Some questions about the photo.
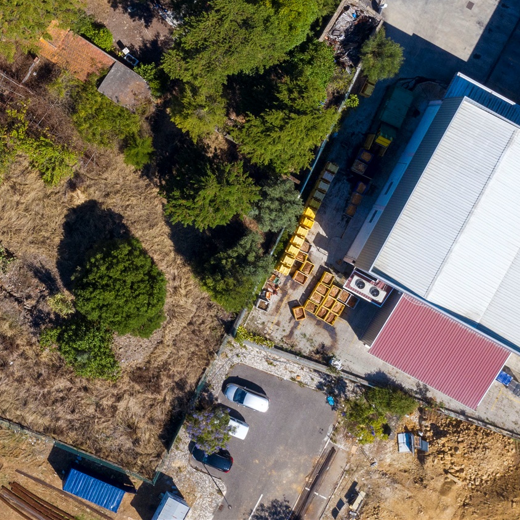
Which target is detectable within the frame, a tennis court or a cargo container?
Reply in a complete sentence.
It is a cargo container that can be seen here.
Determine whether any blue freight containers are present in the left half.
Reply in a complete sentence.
Yes, you'll find a blue freight container in the left half.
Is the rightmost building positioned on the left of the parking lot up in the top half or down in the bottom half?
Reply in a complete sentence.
You can find the rightmost building positioned on the left of the parking lot in the bottom half.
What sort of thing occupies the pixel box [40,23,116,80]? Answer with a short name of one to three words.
shed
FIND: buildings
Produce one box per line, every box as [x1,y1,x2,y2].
[40,23,116,80]
[98,62,151,108]
[144,483,190,520]
[337,95,520,355]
